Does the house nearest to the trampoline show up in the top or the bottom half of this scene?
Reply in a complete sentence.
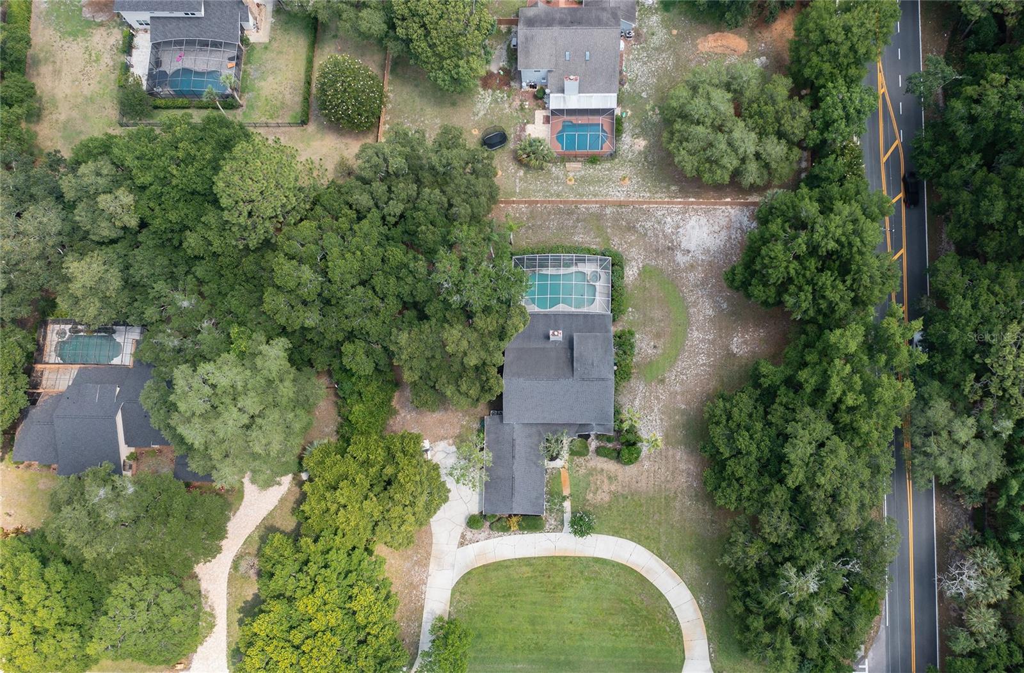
The house nearest to the trampoline sits in the top half of the picture.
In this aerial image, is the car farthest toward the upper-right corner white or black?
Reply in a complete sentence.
The car farthest toward the upper-right corner looks black in the image.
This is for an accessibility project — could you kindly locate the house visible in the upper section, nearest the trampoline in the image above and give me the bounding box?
[518,0,637,110]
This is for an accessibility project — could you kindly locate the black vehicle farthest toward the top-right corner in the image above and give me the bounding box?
[901,174,921,205]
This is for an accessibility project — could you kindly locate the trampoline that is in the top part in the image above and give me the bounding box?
[482,127,506,148]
